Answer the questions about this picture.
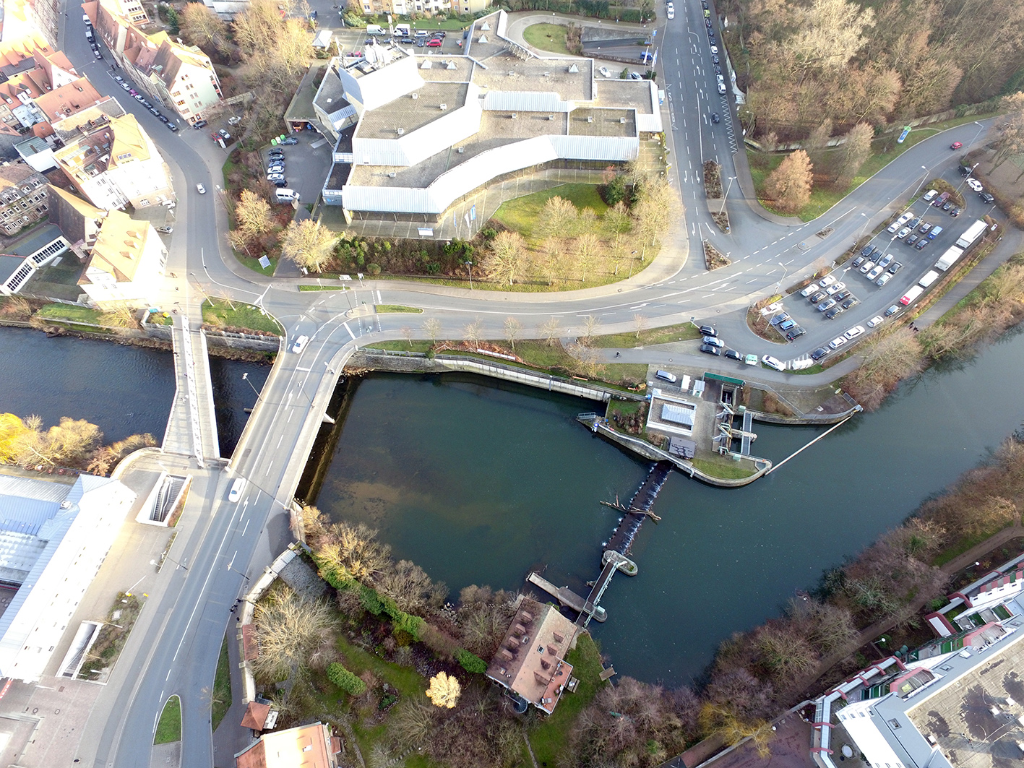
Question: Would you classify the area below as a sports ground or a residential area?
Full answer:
This looks like a residential area.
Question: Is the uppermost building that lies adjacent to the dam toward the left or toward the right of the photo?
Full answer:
The uppermost building that lies adjacent to the dam appears in the right half of the scene.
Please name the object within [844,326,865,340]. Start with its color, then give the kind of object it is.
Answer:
white car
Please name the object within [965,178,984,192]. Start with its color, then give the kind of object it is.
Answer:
white car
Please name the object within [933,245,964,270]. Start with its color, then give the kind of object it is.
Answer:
white truck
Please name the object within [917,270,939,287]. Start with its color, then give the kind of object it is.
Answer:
white vehicle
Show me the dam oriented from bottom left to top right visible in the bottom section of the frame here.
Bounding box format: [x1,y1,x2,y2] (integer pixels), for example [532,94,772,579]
[603,459,674,555]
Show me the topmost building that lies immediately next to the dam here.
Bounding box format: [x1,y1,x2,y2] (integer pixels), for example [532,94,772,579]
[644,388,696,440]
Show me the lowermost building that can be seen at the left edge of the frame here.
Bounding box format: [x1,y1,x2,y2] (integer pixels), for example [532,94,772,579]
[0,465,136,703]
